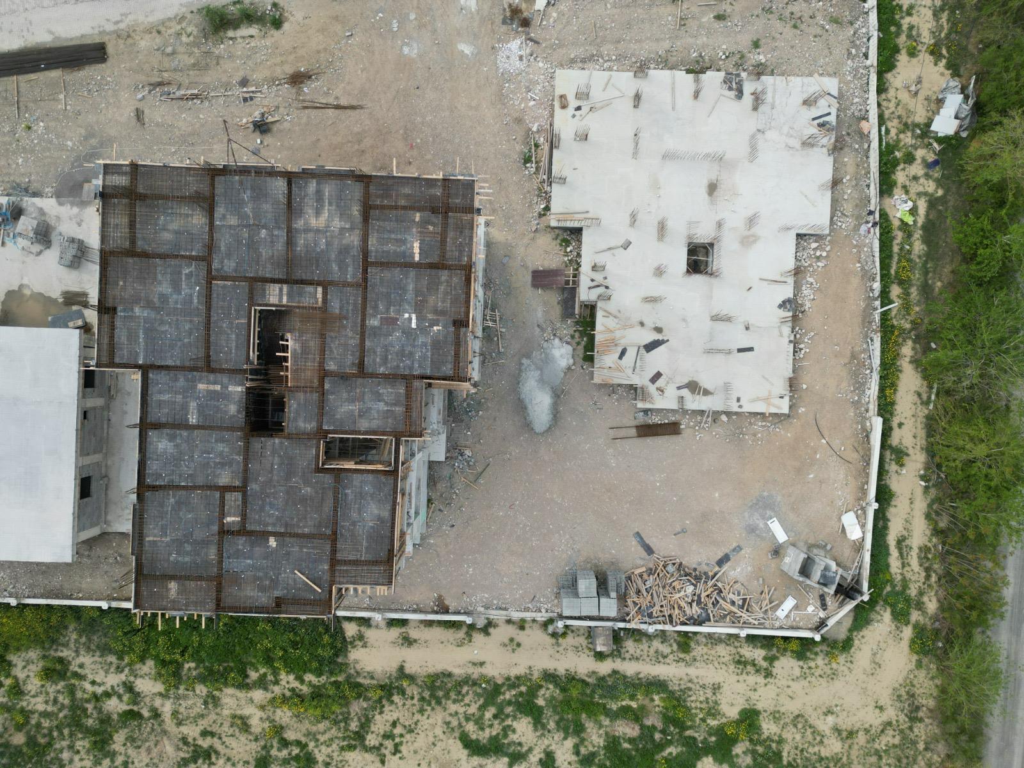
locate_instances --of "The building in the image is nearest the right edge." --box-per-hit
[75,145,494,630]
